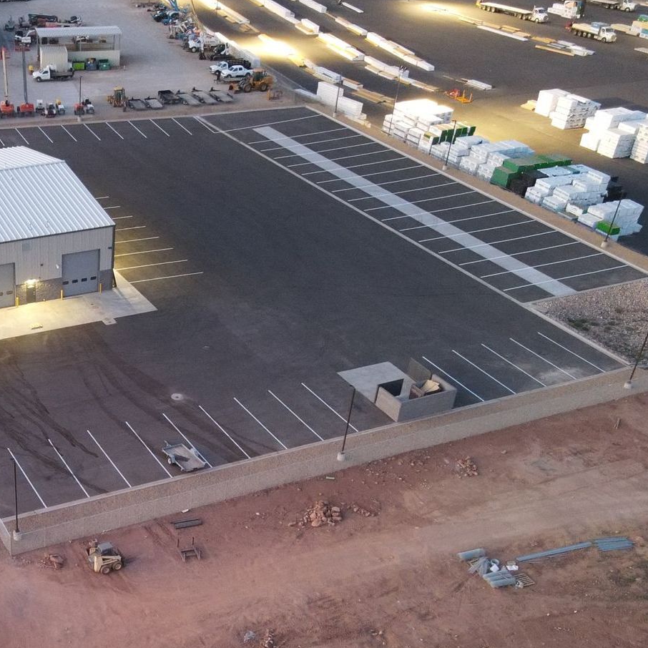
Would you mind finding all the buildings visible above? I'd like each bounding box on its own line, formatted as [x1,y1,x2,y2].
[36,24,126,64]
[0,145,120,308]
